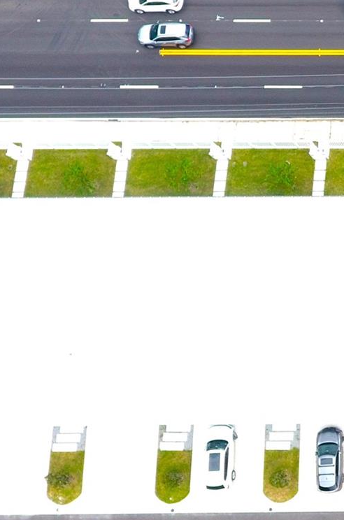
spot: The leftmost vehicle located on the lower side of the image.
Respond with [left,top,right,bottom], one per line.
[202,427,236,493]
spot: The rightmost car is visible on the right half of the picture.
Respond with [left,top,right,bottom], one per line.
[312,429,344,494]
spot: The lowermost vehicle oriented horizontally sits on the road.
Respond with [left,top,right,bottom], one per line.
[135,19,195,48]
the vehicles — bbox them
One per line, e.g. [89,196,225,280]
[135,19,195,48]
[312,429,344,494]
[202,427,236,493]
[126,0,185,15]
